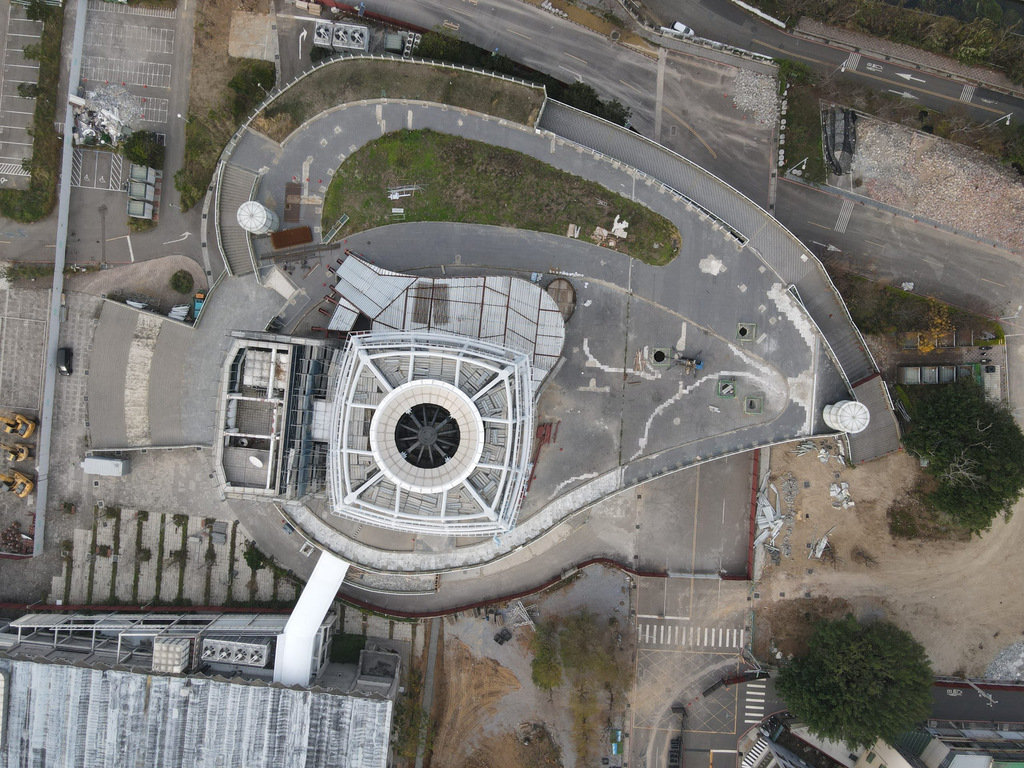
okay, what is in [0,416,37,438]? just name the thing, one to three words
work vehicle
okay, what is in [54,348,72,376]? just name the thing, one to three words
car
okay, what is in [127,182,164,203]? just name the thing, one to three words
shed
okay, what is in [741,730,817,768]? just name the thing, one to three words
house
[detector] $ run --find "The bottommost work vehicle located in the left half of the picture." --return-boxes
[0,474,35,498]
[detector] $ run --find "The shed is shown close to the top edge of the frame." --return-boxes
[384,34,404,55]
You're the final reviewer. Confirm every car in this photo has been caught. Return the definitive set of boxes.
[54,348,72,376]
[670,16,698,38]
